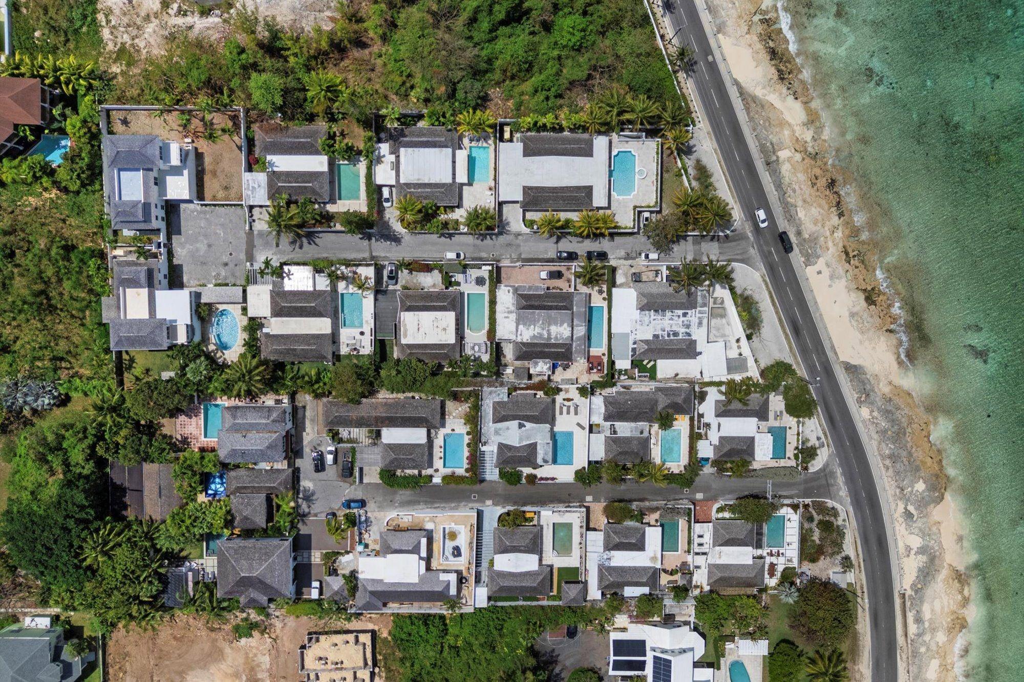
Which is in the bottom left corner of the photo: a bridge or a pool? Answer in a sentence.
You can see a pool in the bottom left corner of the photo.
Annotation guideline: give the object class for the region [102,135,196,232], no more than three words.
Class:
house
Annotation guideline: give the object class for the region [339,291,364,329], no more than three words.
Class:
swimming pool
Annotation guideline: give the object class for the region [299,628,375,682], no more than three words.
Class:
building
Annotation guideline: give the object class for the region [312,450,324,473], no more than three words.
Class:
vehicle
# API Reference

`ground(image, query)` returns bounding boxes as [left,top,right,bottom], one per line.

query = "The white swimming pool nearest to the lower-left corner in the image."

[441,525,465,564]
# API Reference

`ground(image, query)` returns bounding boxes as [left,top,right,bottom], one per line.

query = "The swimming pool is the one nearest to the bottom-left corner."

[205,532,226,558]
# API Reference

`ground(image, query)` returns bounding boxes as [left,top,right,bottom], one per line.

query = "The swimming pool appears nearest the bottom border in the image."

[727,659,750,682]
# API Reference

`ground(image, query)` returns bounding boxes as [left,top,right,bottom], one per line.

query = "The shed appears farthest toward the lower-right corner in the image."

[735,635,768,655]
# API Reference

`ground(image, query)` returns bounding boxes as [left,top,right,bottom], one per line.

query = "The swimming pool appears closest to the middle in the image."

[464,291,488,336]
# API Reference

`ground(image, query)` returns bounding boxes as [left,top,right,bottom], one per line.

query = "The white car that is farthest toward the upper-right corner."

[753,206,768,229]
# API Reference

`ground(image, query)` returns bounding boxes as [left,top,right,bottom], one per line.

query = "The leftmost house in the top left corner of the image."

[0,77,58,159]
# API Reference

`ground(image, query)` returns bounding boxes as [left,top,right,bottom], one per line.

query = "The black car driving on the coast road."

[777,230,793,254]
